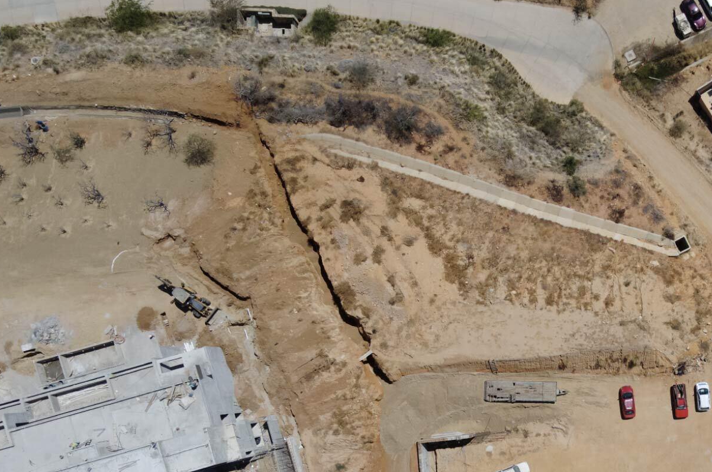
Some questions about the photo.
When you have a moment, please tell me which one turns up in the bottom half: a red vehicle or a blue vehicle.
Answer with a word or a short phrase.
red vehicle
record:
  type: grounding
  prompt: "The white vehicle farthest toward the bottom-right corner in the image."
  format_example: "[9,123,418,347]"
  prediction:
[695,383,711,413]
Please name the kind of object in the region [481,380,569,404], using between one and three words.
trailer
